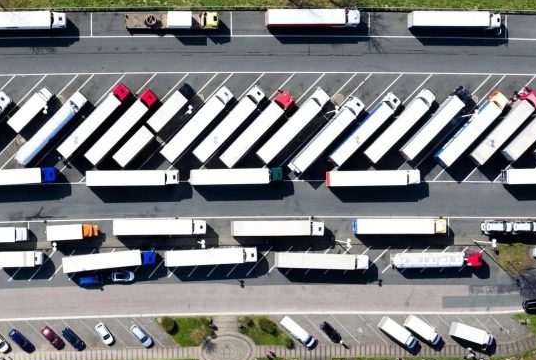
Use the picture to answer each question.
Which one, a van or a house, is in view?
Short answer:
van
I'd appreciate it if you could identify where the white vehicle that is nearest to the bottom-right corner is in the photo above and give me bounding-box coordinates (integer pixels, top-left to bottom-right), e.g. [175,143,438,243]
[445,320,495,347]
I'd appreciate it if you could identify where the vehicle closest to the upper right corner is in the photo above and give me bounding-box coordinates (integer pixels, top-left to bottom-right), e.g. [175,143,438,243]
[406,11,501,30]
